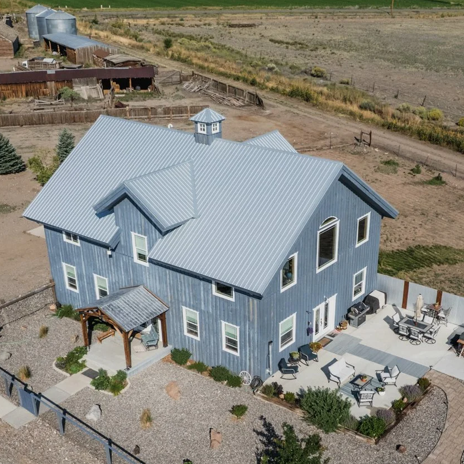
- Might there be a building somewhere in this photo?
Yes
